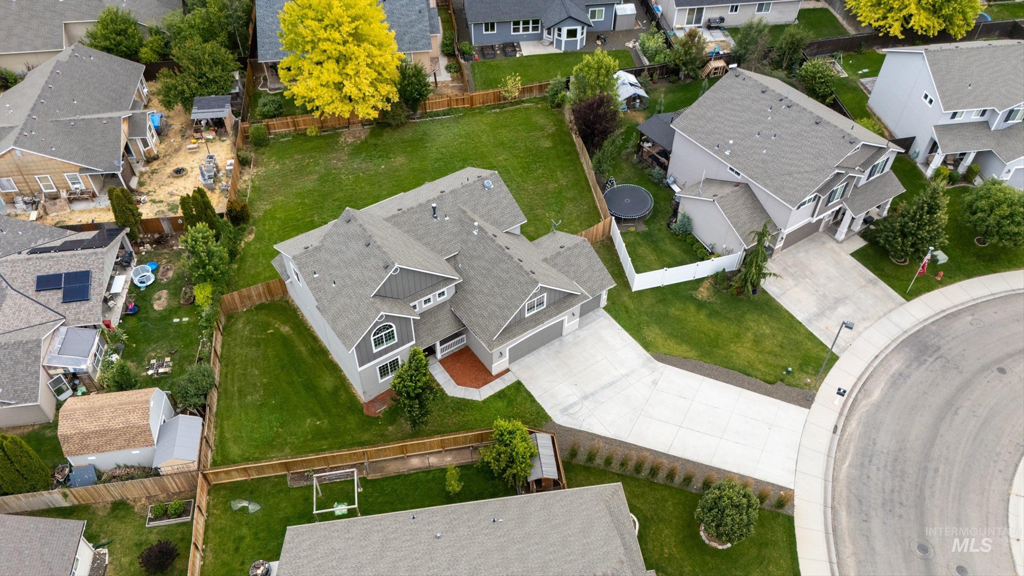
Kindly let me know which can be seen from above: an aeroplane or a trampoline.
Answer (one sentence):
Visible in the photo is a trampoline.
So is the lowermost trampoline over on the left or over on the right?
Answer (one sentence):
The lowermost trampoline is on the left side of the image.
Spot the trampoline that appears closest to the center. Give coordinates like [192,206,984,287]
[604,185,654,223]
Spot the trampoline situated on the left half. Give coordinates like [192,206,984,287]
[127,264,157,291]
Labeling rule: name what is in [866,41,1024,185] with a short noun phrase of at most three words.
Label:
house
